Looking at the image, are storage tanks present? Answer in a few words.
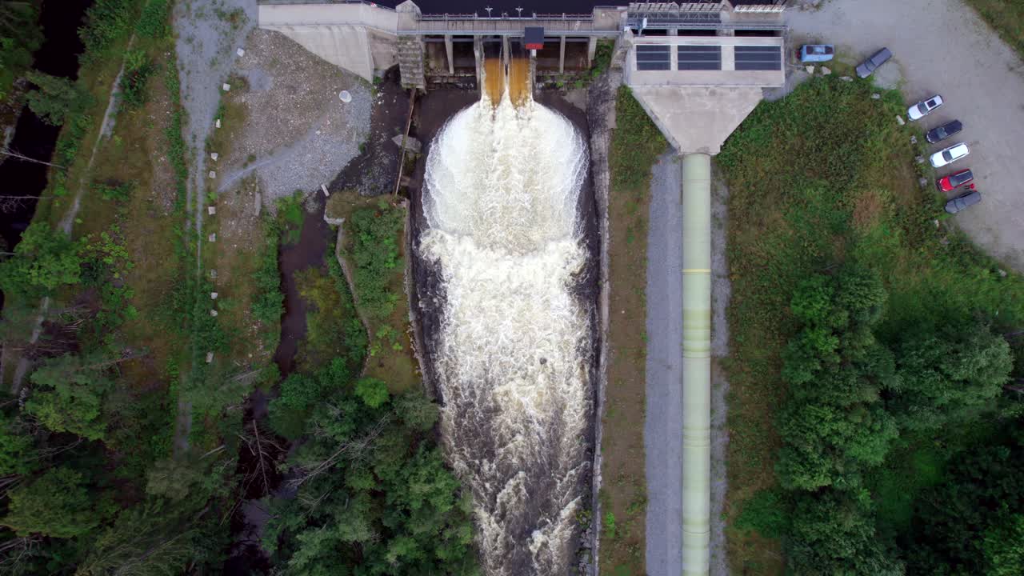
No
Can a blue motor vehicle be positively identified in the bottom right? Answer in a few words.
No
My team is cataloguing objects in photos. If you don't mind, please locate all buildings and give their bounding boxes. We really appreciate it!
[615,0,791,162]
[524,26,544,59]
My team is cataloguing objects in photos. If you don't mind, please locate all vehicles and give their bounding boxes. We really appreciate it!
[799,45,834,63]
[939,189,983,220]
[922,116,965,147]
[933,165,975,194]
[925,140,972,172]
[903,92,945,123]
[851,45,895,81]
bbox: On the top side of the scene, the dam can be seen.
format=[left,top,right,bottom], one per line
[254,0,622,123]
